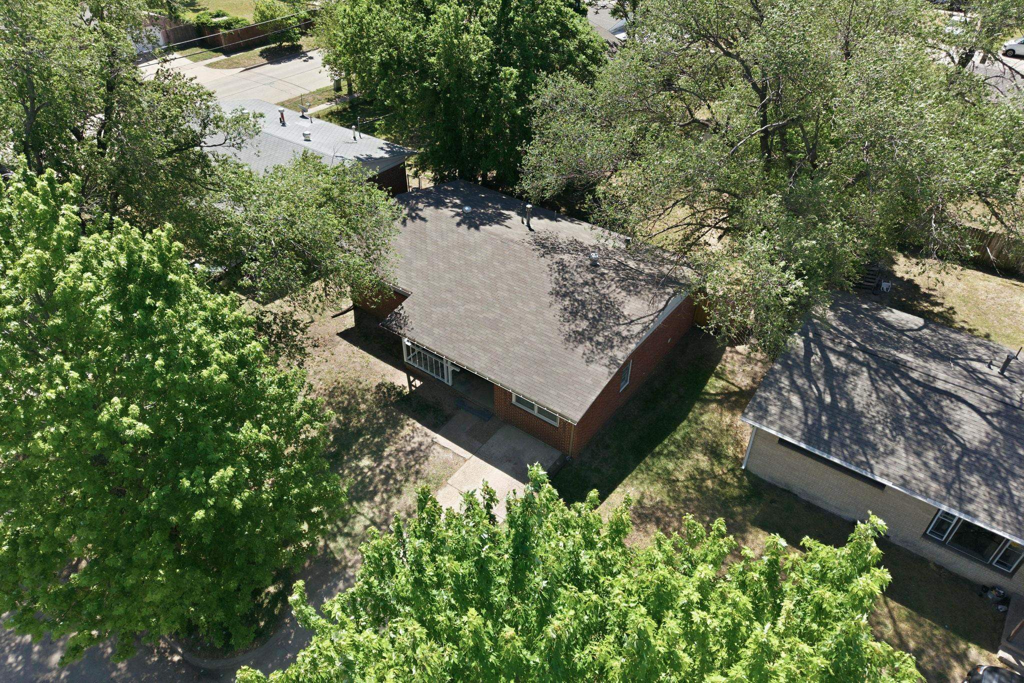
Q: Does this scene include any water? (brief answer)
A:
No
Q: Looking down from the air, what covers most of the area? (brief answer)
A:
trees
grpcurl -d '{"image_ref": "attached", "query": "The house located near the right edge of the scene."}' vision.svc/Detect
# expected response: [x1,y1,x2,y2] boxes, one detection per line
[737,286,1024,593]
